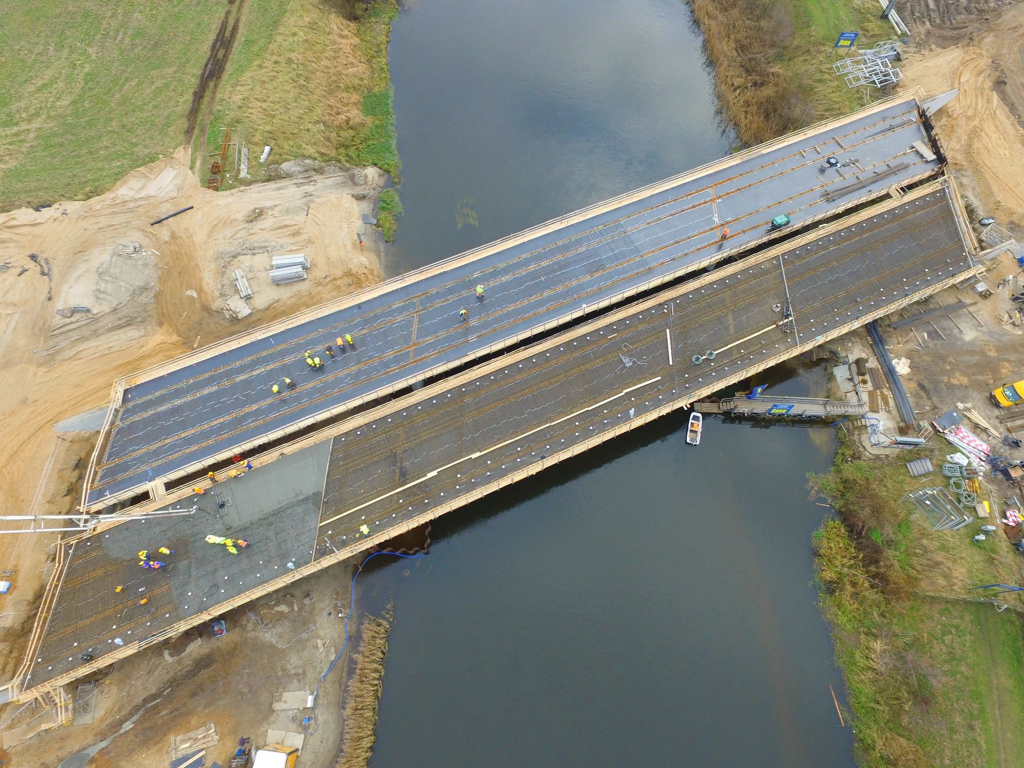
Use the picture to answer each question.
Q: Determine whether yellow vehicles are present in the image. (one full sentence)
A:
Yes, the photo shows a yellow vehicle.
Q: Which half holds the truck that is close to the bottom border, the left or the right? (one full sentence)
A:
The truck that is close to the bottom border appears in the left half of the scene.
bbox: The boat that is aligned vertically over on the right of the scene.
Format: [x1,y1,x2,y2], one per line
[685,411,703,449]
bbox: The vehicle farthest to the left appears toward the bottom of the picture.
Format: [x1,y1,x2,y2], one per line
[252,736,296,768]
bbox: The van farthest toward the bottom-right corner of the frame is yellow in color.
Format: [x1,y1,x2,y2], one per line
[989,382,1024,412]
